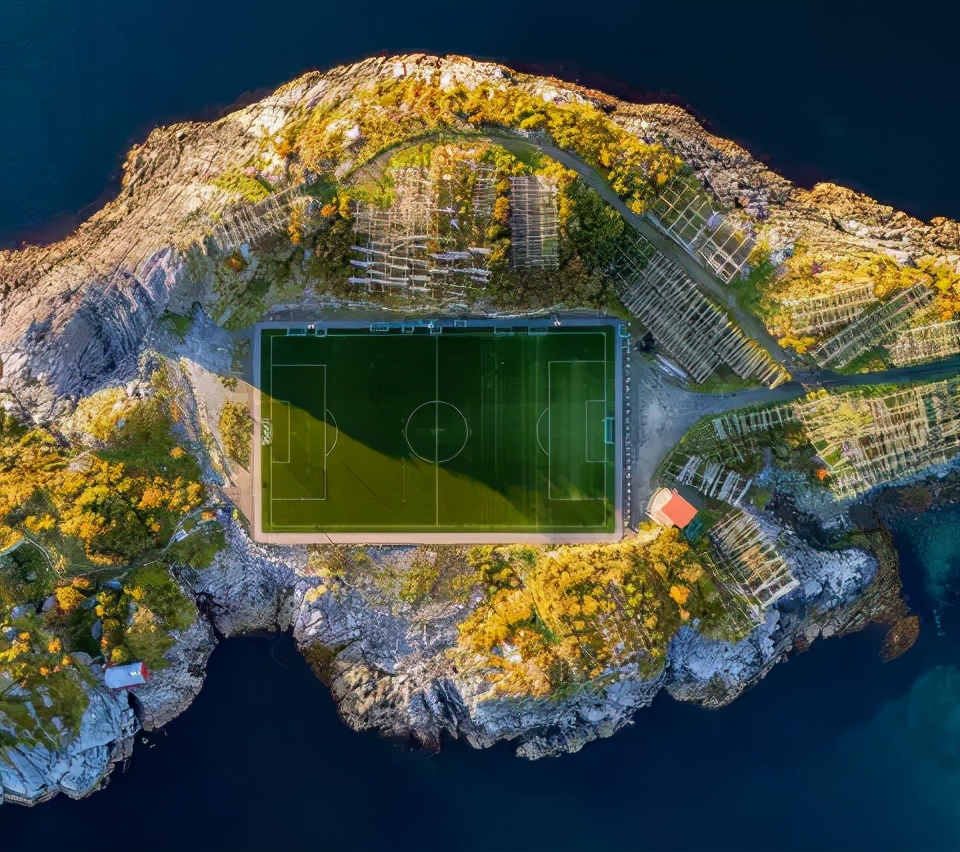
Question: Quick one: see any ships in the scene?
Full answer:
No, I can't see a single ship in this photo.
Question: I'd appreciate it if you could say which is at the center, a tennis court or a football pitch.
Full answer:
You can see a football pitch at the center.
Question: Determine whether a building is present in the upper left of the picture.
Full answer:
No, there is no building in the upper left of the picture.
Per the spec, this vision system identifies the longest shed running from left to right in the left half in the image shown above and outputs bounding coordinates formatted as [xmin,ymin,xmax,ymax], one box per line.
[106,660,153,688]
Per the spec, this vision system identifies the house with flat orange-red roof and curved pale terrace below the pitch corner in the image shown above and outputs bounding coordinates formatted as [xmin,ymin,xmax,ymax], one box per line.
[643,486,698,529]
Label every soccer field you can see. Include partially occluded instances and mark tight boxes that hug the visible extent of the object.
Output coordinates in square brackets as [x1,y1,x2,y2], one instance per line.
[254,319,623,543]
